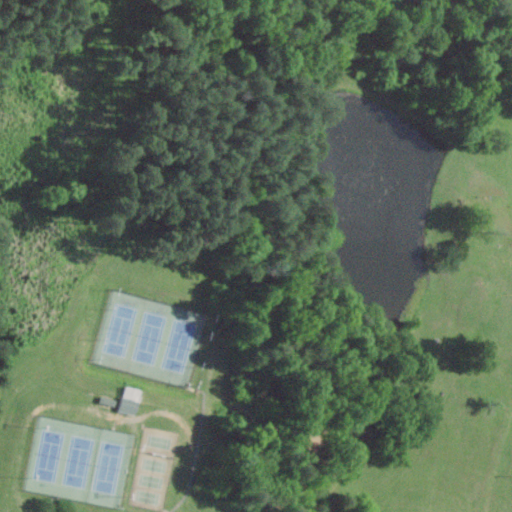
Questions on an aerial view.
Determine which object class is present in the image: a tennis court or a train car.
tennis court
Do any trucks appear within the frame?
No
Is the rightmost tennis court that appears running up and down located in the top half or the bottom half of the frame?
bottom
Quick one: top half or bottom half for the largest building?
bottom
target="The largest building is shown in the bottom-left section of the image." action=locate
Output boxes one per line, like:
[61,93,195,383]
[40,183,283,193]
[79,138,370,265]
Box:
[118,388,142,416]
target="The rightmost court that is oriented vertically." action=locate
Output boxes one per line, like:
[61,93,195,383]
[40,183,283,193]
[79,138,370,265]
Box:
[162,320,195,372]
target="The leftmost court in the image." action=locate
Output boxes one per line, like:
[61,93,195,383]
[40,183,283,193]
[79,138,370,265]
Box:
[35,432,64,482]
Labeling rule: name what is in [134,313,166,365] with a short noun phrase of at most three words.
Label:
tennis court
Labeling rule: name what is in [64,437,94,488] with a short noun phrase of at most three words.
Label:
tennis court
